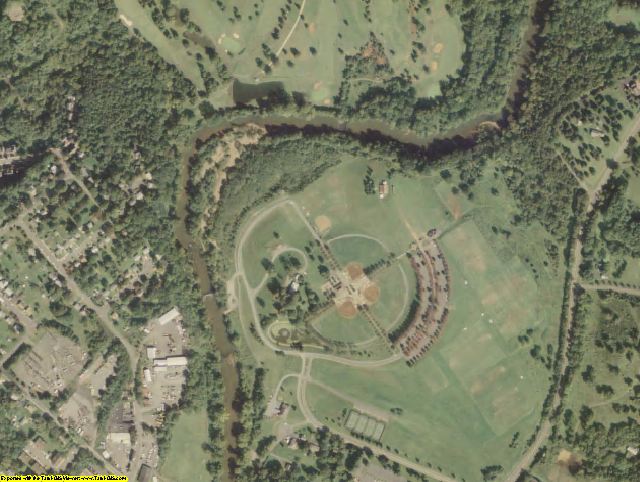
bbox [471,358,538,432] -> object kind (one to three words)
soccer field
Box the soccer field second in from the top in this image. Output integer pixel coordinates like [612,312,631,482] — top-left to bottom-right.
[478,270,536,338]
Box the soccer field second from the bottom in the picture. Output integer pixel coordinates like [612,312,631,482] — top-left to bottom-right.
[446,330,503,382]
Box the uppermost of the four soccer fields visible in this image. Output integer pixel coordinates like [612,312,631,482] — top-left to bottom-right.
[449,226,502,292]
